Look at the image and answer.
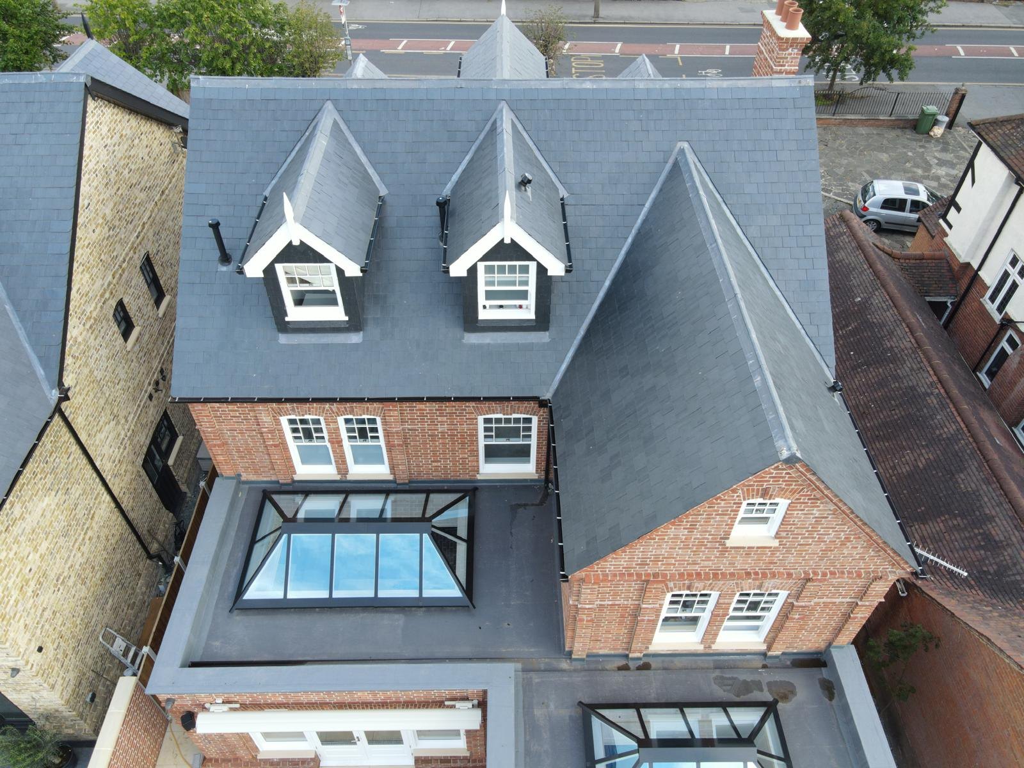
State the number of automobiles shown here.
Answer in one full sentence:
In total, there is 1 automobile in the scene.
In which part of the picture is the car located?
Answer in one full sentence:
The car appears toward the top right of the photo.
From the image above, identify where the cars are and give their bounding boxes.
[856,178,945,237]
